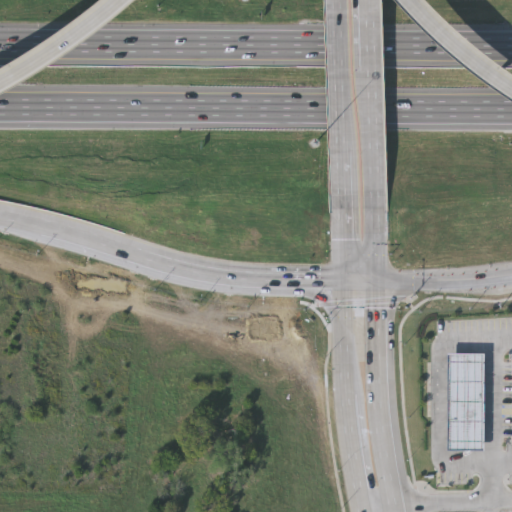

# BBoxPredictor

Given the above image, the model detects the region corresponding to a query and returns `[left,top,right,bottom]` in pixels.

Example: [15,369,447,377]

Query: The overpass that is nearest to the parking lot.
[324,0,388,212]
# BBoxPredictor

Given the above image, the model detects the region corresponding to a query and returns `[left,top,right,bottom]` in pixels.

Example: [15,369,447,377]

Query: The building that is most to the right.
[447,354,486,450]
